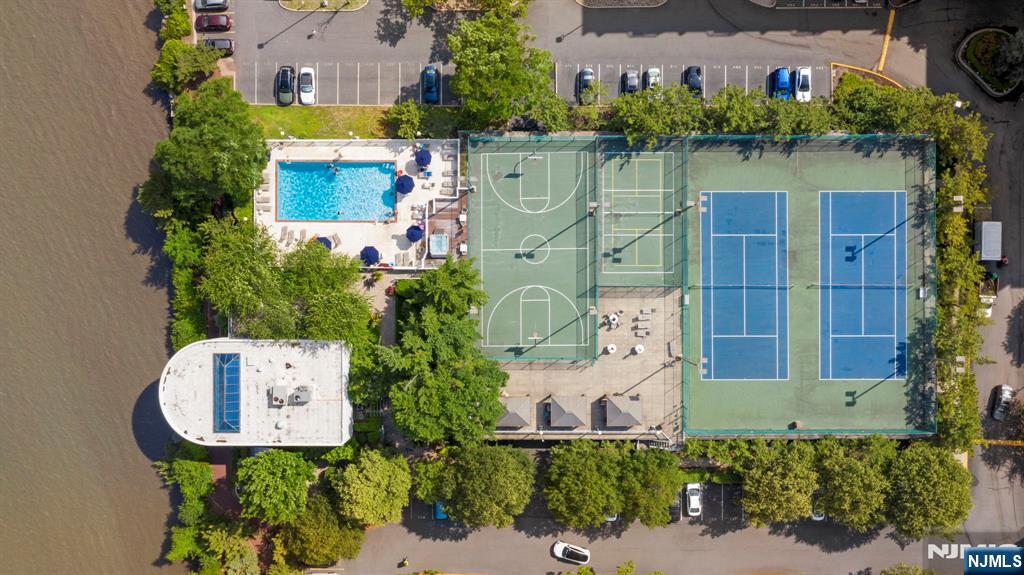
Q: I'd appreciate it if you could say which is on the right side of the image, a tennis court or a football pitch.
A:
tennis court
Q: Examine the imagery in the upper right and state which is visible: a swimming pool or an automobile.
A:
automobile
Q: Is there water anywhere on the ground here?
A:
Yes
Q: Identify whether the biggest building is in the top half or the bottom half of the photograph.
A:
bottom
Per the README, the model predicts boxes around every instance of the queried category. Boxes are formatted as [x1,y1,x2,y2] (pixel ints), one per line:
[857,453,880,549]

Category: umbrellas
[407,225,424,242]
[315,235,333,253]
[360,246,379,265]
[415,149,432,166]
[395,175,415,194]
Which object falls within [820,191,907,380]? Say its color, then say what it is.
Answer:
blue tennis court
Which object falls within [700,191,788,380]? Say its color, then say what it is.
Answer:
blue tennis court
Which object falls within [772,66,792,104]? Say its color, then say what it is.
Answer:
blue car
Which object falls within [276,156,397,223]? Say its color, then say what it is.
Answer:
blue swimming pool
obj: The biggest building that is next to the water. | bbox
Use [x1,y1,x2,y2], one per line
[158,336,359,461]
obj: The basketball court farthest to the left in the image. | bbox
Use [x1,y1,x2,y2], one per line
[468,141,594,358]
